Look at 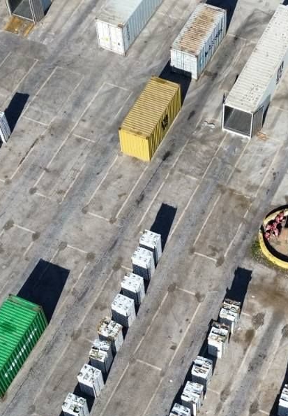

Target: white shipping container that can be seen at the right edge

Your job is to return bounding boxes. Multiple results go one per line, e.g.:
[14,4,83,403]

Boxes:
[223,3,288,138]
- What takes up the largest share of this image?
paved ground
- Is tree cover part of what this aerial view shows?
No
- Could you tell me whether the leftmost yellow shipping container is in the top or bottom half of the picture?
top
